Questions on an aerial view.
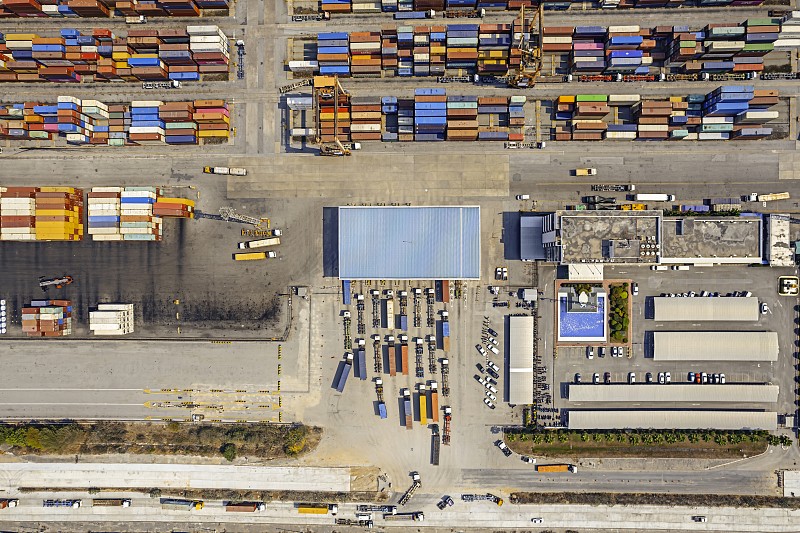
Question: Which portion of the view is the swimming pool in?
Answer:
right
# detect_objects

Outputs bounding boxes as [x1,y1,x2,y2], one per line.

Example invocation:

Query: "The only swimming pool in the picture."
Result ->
[558,286,608,342]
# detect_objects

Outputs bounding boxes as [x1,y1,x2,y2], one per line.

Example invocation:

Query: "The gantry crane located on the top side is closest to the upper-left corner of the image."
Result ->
[311,74,355,156]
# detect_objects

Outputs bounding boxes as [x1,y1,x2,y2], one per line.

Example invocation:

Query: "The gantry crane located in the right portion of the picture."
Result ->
[505,0,548,85]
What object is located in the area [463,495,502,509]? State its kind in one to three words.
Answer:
vehicle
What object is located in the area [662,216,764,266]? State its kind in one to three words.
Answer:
building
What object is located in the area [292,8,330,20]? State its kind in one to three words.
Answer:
vehicle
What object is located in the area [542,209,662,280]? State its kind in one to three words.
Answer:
building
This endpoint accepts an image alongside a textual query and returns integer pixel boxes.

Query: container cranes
[505,0,548,85]
[311,74,355,156]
